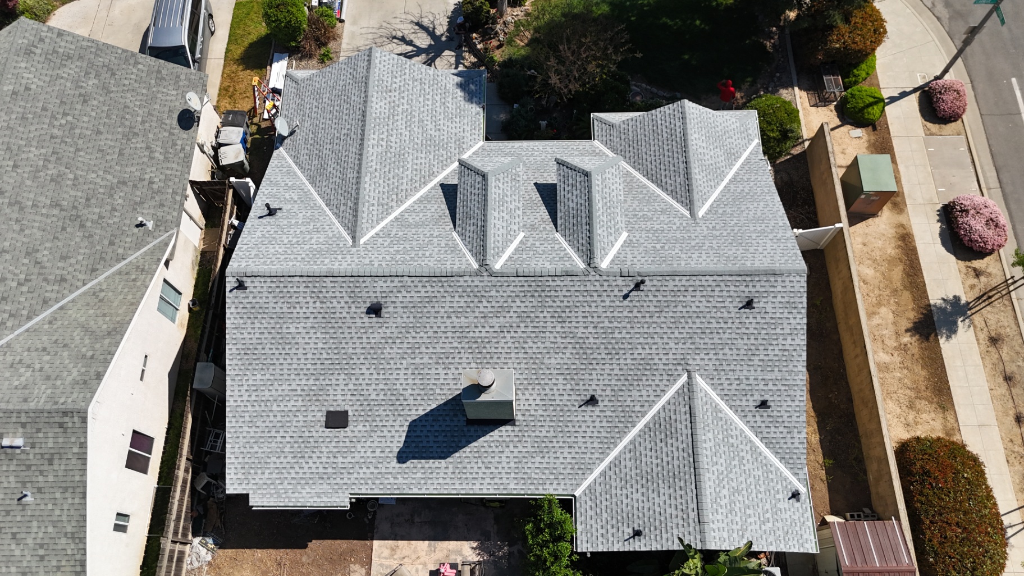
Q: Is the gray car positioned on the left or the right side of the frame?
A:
left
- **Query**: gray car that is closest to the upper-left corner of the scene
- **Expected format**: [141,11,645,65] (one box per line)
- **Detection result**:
[149,0,219,72]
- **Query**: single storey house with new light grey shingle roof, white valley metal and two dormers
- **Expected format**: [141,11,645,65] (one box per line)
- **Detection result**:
[225,47,821,553]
